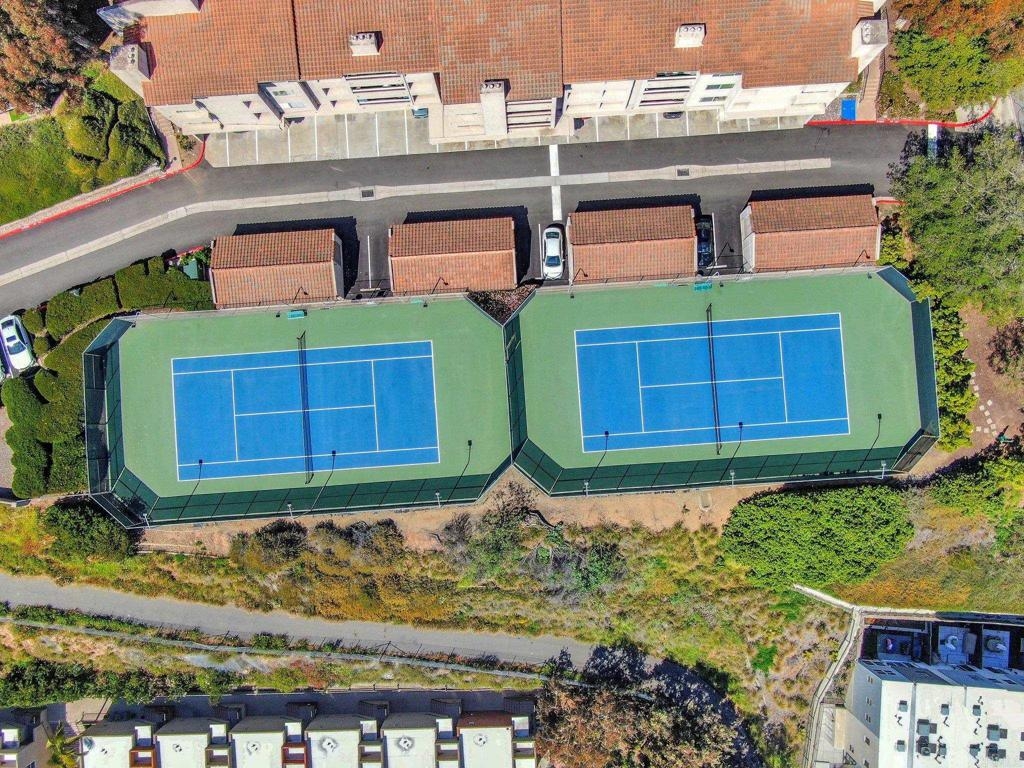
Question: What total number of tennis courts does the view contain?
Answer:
2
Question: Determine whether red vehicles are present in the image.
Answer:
No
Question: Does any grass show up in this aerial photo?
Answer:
Yes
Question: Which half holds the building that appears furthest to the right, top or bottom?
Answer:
bottom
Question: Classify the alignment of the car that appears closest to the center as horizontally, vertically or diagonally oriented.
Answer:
vertically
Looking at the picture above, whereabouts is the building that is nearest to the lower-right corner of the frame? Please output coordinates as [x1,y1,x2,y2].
[853,664,1024,768]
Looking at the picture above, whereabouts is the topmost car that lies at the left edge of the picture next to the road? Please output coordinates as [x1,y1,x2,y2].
[0,318,38,373]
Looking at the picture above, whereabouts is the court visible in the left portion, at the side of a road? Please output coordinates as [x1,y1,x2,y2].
[104,302,511,523]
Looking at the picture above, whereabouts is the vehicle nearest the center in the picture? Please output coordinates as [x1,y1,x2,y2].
[541,226,566,280]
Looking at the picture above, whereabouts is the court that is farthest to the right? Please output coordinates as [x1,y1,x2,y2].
[504,273,921,491]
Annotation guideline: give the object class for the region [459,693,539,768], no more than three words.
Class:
house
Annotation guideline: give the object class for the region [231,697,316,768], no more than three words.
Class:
house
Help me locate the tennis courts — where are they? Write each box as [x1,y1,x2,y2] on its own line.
[104,302,511,523]
[504,273,921,491]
